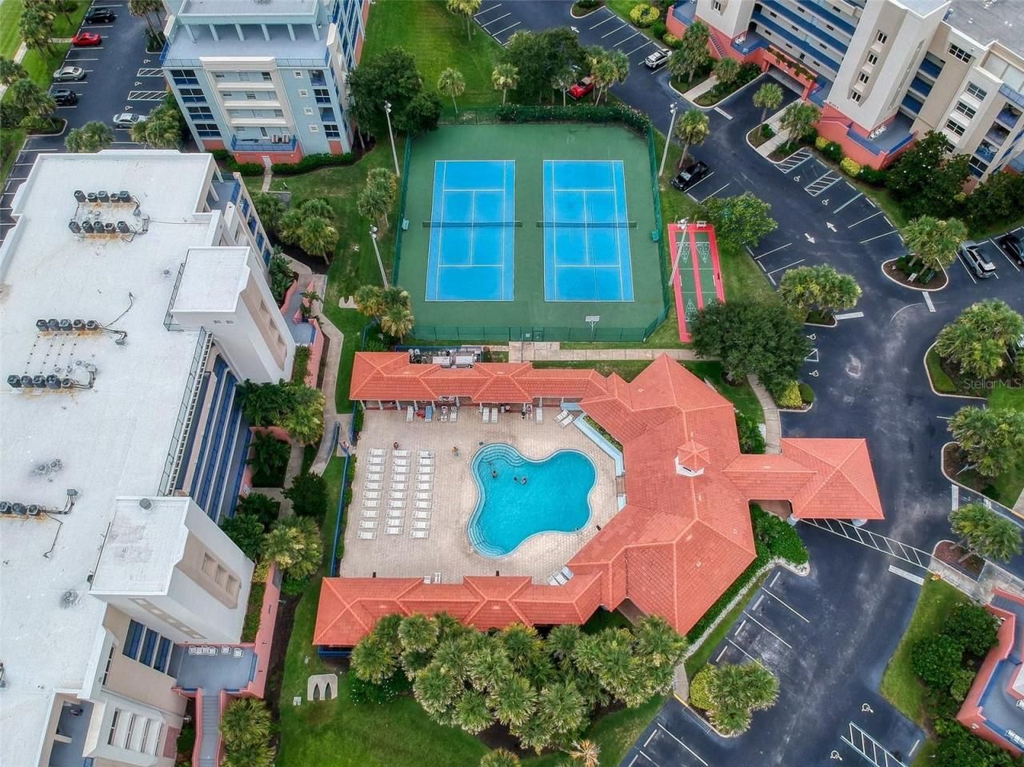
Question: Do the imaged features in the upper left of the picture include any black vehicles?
Yes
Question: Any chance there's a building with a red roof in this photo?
Yes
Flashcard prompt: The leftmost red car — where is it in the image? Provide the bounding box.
[69,31,99,45]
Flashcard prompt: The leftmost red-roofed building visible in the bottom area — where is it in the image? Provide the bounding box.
[312,351,885,647]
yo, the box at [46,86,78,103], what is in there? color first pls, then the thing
black car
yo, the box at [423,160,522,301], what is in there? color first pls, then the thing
blue tennis court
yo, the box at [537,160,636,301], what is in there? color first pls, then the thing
blue tennis court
